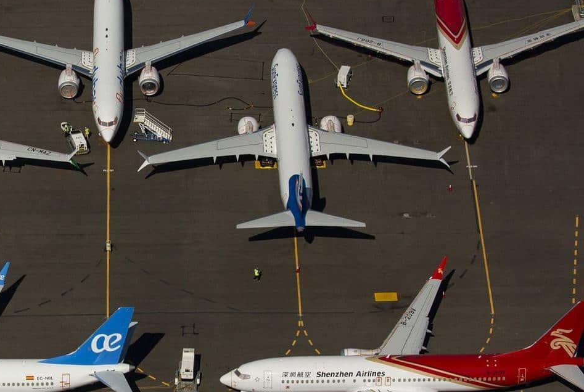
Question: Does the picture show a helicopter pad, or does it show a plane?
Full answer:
Of the two, only a plane appears.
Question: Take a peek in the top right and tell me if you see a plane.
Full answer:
Yes, I can see a plane in the top right.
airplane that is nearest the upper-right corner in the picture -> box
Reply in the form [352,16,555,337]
[304,0,584,140]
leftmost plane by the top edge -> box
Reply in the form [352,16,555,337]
[0,0,254,143]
